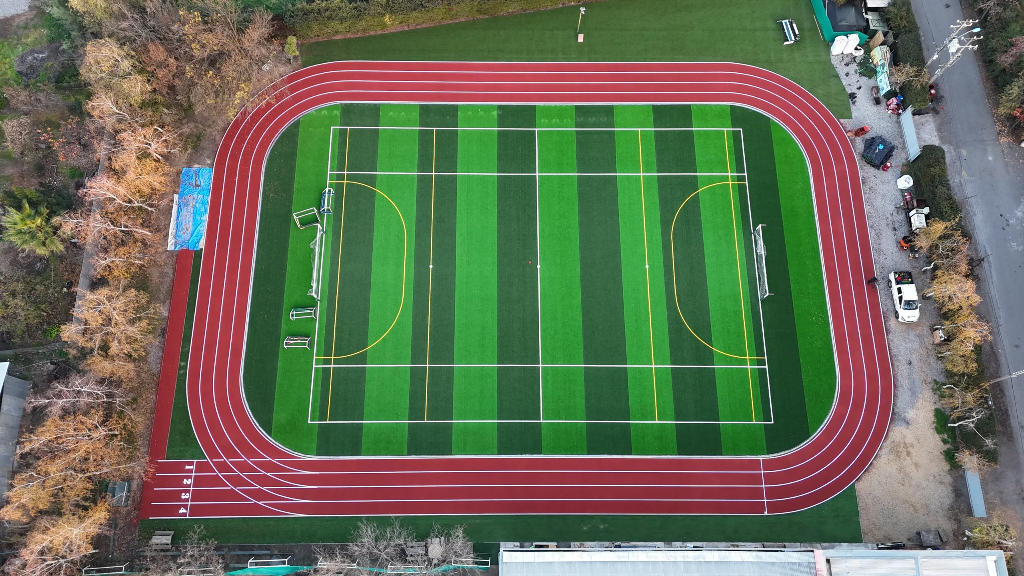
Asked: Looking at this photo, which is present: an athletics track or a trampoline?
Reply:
athletics track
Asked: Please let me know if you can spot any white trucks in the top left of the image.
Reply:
No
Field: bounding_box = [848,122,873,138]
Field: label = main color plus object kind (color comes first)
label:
red vehicle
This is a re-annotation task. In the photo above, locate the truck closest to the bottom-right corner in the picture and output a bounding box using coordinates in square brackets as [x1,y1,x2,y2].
[891,271,925,323]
